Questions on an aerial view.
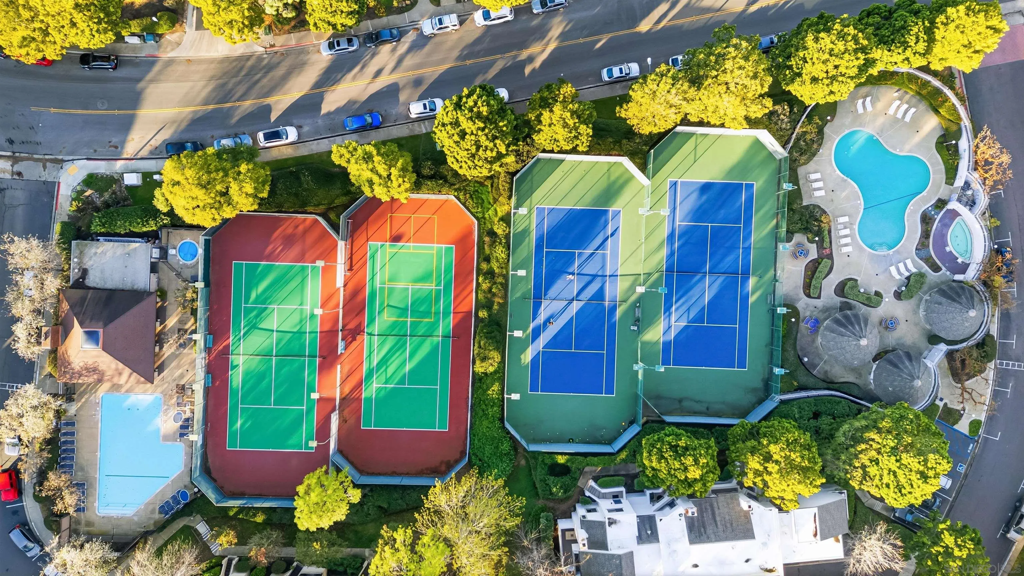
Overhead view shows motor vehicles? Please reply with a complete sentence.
Yes, the image includes a motor vehicle.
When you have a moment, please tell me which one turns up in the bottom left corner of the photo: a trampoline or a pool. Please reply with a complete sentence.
You can see a pool in the bottom left corner of the photo.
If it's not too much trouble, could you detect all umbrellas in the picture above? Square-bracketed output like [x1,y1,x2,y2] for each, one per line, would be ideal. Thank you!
[872,345,937,404]
[817,309,879,369]
[920,283,985,346]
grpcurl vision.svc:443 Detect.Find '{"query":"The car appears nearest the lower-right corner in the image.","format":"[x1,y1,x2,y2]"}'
[998,497,1024,537]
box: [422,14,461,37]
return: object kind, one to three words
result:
car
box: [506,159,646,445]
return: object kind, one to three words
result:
tennis court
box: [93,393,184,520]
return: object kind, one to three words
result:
swimming pool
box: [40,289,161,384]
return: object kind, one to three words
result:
building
